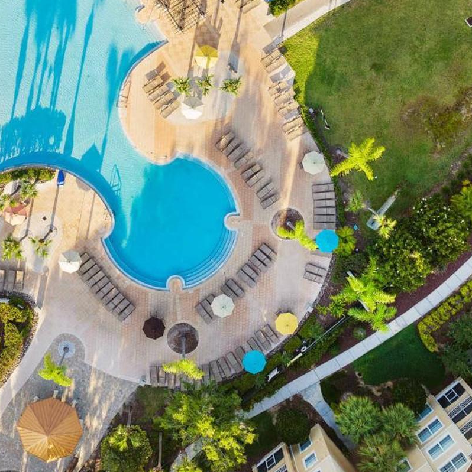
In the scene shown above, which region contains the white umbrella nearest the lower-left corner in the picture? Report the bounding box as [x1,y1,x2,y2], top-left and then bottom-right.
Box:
[59,249,82,274]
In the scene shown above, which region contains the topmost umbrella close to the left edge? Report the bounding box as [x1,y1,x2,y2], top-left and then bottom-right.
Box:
[5,201,28,224]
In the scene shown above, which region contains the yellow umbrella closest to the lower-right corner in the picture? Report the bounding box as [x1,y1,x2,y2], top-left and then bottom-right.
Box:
[274,310,298,335]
